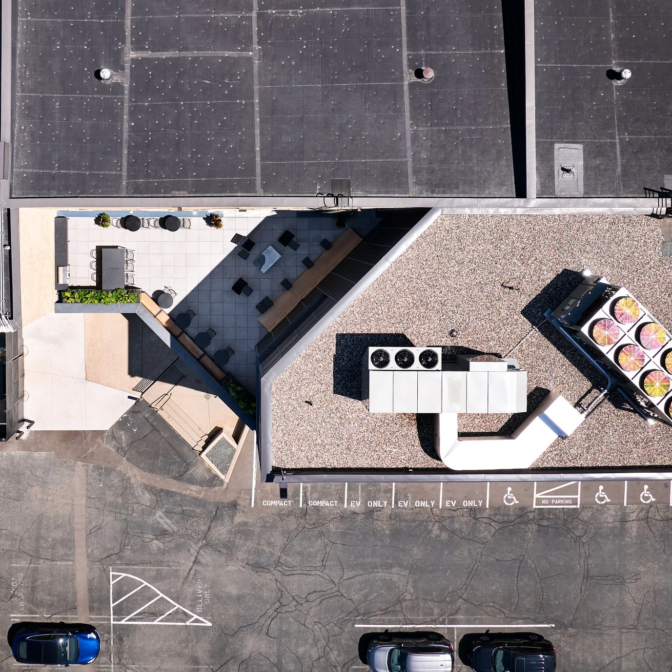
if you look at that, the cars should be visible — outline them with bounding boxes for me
[367,640,455,672]
[467,642,558,672]
[13,621,104,671]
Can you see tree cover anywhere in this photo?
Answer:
No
